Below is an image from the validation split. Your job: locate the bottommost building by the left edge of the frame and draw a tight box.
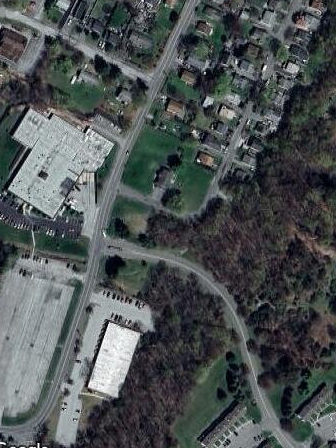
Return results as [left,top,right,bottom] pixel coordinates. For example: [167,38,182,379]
[6,108,114,219]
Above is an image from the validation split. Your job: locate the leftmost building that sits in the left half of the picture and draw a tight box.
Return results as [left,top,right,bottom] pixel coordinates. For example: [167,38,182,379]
[0,27,30,61]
